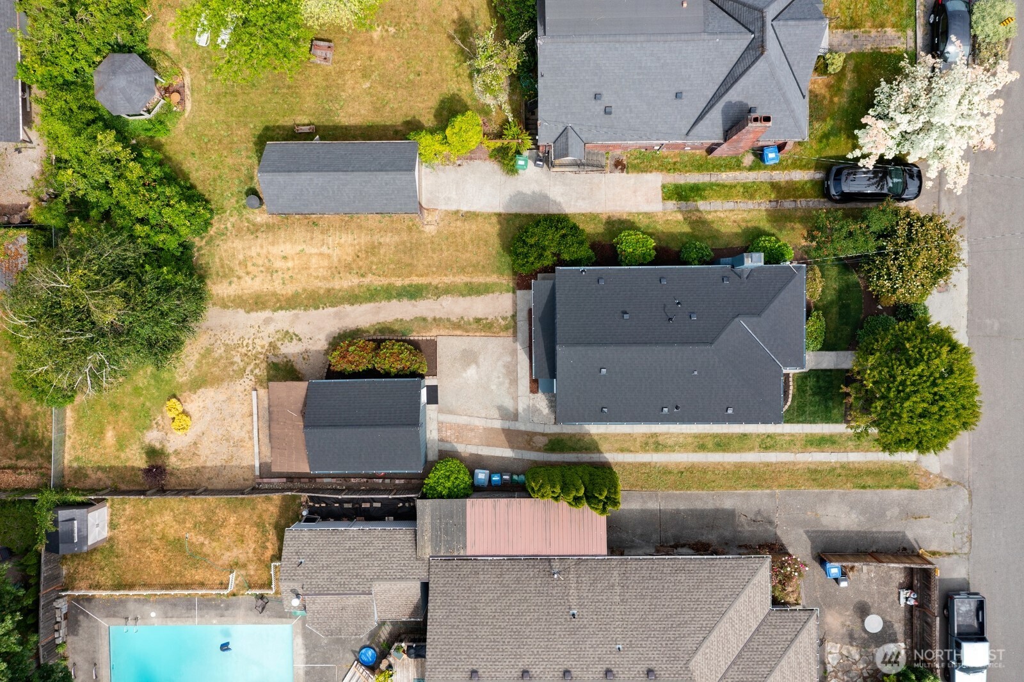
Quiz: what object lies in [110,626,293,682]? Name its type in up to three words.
swimming pool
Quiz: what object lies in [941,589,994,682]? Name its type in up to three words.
truck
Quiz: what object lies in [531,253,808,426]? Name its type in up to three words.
house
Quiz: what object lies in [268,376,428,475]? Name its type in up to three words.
building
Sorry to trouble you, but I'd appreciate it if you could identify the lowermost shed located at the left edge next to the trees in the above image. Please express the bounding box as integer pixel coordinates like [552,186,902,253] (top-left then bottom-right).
[47,501,113,554]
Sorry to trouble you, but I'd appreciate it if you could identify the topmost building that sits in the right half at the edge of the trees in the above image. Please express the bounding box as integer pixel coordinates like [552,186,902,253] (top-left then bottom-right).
[521,0,839,175]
